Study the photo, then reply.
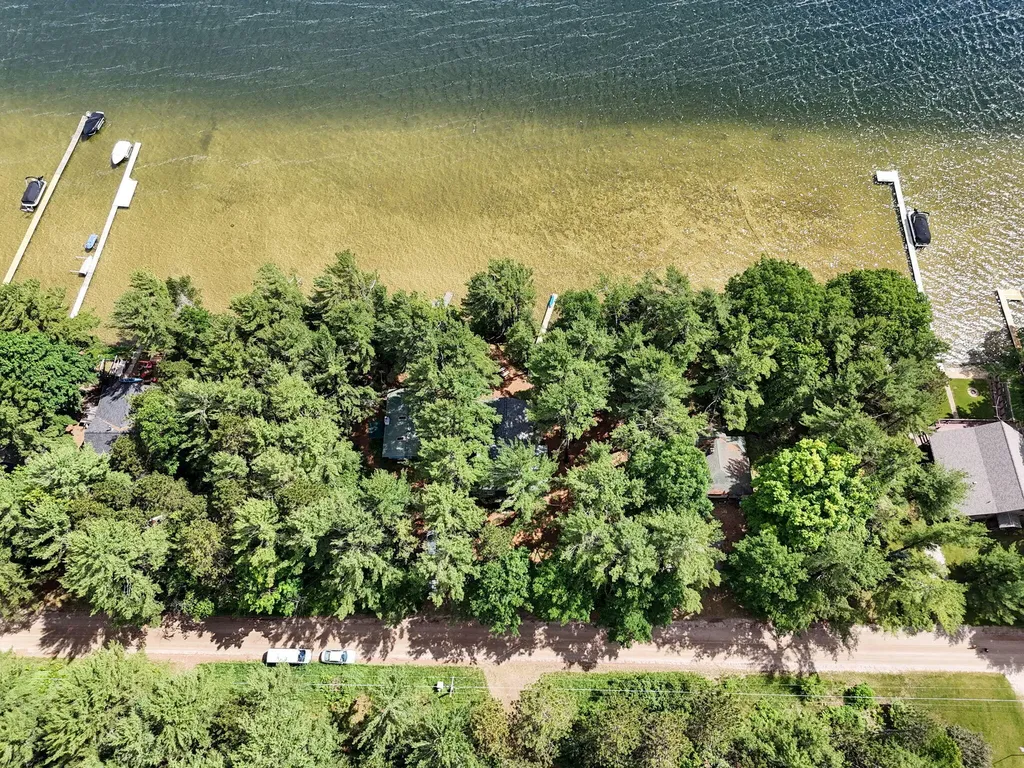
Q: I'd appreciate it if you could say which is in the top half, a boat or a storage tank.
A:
boat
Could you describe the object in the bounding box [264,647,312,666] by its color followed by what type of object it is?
white vehicle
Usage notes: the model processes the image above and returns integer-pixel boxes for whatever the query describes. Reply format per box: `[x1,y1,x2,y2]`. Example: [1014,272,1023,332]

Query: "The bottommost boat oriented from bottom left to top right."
[86,234,99,250]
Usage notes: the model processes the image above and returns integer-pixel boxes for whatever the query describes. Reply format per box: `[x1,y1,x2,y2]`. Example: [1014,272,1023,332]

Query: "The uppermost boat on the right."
[908,206,931,249]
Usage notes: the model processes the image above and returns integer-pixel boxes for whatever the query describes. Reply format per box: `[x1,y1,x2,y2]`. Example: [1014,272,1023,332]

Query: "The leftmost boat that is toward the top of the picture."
[21,174,50,211]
